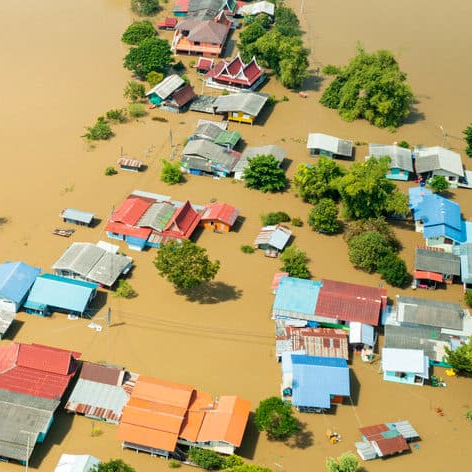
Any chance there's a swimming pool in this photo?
No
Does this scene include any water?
Yes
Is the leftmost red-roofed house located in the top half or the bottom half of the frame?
bottom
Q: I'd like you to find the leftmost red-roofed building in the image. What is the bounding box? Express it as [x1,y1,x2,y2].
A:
[0,343,80,409]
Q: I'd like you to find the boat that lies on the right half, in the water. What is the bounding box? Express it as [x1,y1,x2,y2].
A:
[361,346,375,364]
